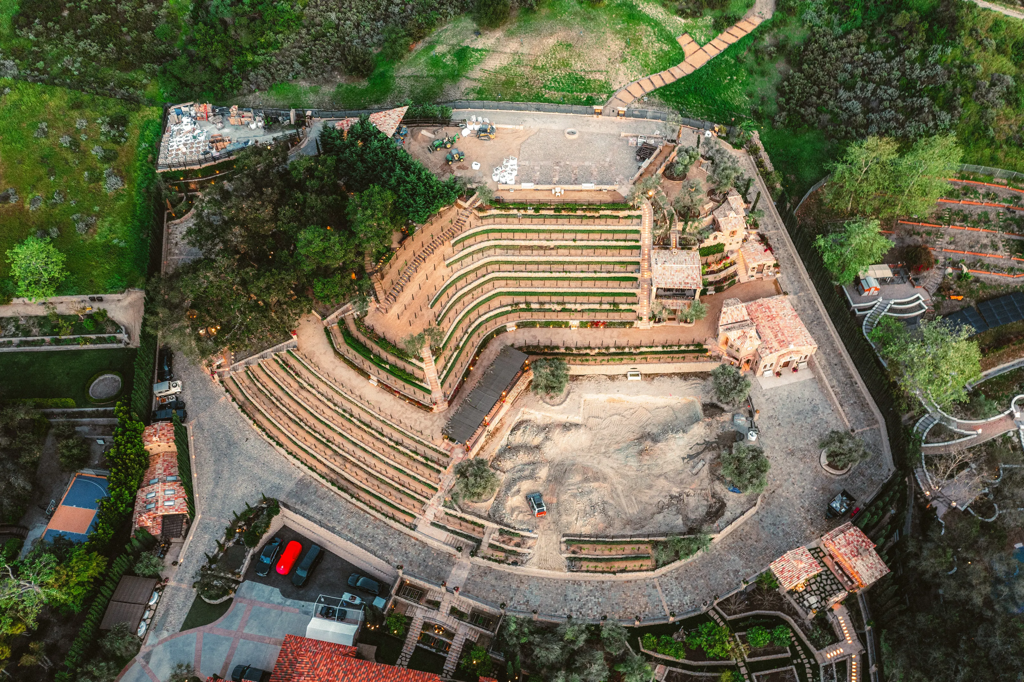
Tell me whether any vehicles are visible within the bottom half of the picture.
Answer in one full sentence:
Yes, looking within the bottom half of the picture, one can make out a vehicle.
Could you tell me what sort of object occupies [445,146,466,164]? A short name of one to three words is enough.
vehicle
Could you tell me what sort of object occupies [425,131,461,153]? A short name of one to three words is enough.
work vehicle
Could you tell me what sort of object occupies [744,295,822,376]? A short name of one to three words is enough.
building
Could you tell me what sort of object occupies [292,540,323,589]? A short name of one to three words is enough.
car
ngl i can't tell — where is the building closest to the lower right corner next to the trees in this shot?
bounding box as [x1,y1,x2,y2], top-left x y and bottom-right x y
[812,520,894,598]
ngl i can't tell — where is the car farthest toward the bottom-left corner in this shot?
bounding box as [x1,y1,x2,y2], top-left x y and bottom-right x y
[225,661,272,682]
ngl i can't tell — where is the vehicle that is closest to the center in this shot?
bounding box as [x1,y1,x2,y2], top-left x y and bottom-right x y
[526,490,548,518]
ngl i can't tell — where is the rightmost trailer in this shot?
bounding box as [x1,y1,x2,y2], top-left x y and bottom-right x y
[827,489,863,521]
